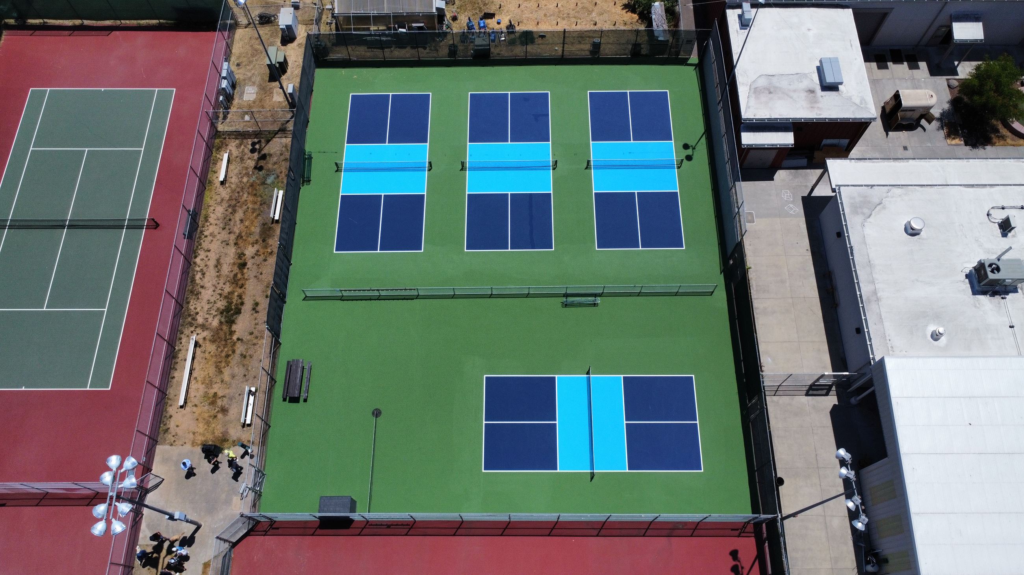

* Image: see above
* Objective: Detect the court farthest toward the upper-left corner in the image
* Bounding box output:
[0,88,175,390]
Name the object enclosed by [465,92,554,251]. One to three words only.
sports court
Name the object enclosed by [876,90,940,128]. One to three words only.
trailer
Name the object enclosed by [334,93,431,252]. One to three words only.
sports court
